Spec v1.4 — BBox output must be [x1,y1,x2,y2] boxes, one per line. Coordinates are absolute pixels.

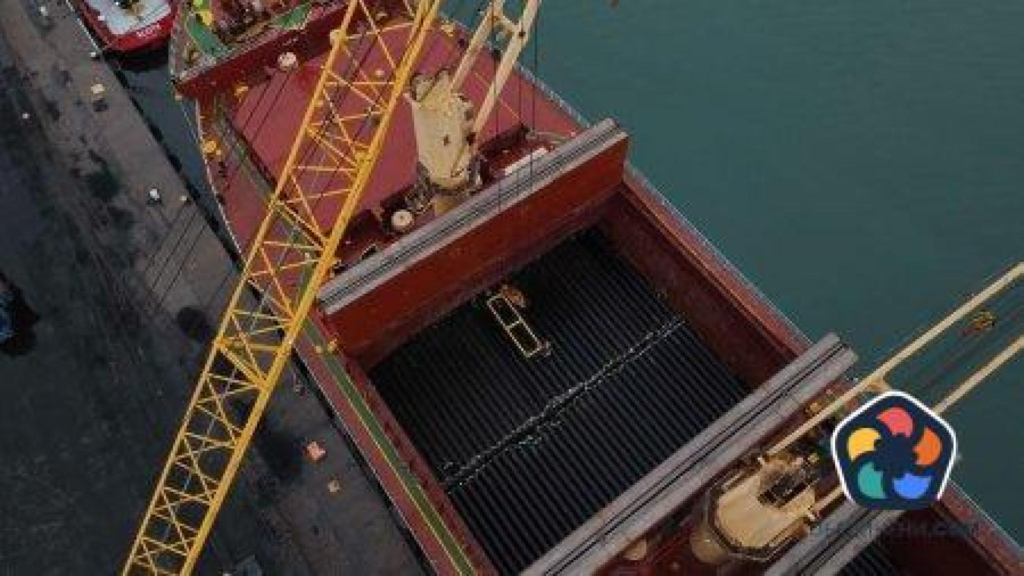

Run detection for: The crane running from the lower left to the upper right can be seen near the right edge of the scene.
[681,259,1024,564]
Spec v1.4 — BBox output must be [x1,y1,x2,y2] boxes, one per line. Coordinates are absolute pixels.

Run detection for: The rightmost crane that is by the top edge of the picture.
[401,0,548,218]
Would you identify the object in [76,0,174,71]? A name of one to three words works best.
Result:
boat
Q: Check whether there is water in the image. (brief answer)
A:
Yes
